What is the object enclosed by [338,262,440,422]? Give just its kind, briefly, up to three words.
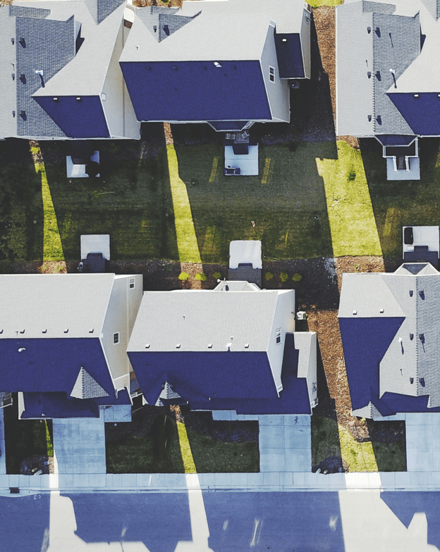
house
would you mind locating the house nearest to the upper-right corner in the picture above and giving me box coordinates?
[336,0,440,147]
